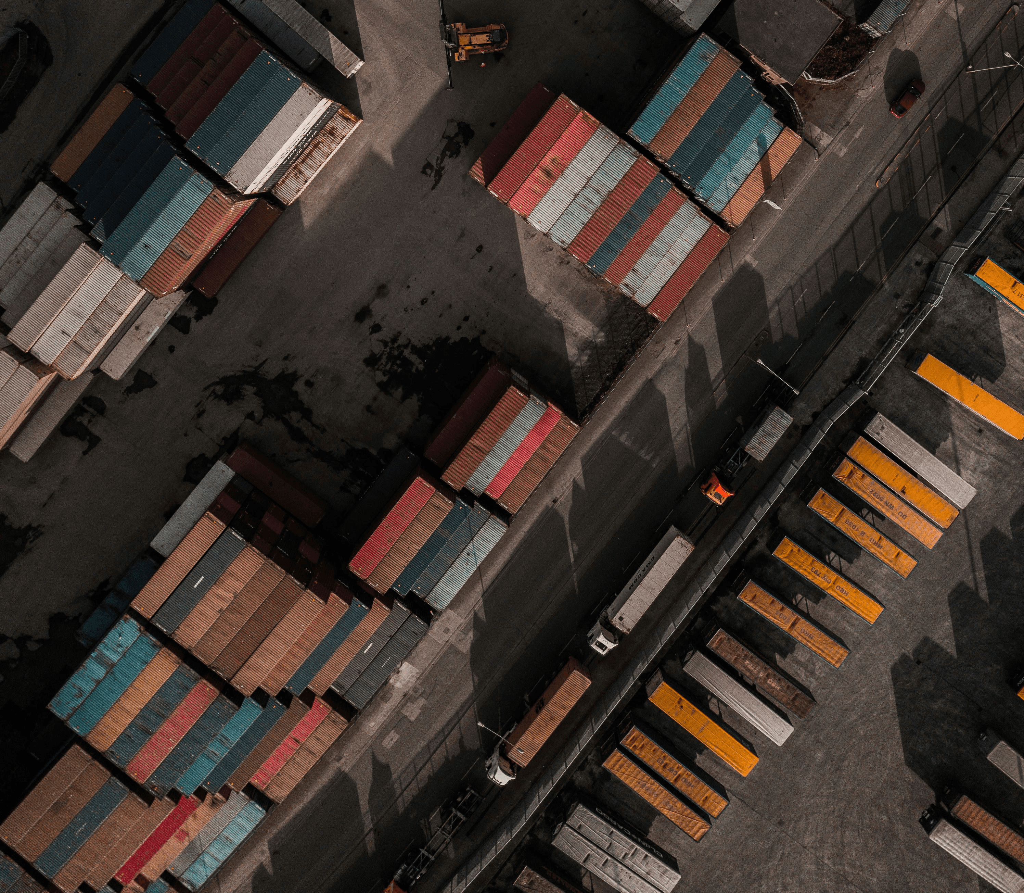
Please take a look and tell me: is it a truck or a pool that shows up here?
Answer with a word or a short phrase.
truck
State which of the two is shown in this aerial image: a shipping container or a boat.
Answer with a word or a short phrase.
shipping container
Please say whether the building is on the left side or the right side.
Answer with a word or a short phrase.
right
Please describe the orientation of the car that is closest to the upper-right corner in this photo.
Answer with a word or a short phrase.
diagonally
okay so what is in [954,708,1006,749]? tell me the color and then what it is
black truck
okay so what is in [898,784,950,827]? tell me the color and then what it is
black truck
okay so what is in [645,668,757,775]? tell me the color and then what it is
orange trailer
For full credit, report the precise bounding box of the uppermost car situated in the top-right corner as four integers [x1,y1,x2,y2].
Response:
[890,78,927,121]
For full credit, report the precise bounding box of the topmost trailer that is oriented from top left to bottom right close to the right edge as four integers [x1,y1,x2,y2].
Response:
[961,255,1024,319]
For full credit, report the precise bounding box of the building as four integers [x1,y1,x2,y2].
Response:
[719,0,843,86]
